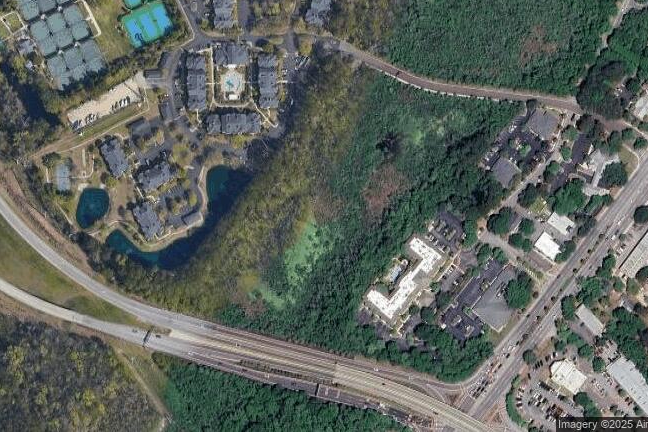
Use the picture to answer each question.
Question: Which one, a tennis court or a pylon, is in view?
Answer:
tennis court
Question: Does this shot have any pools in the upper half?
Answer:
Yes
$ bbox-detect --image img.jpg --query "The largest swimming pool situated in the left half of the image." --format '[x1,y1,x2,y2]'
[222,70,245,93]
